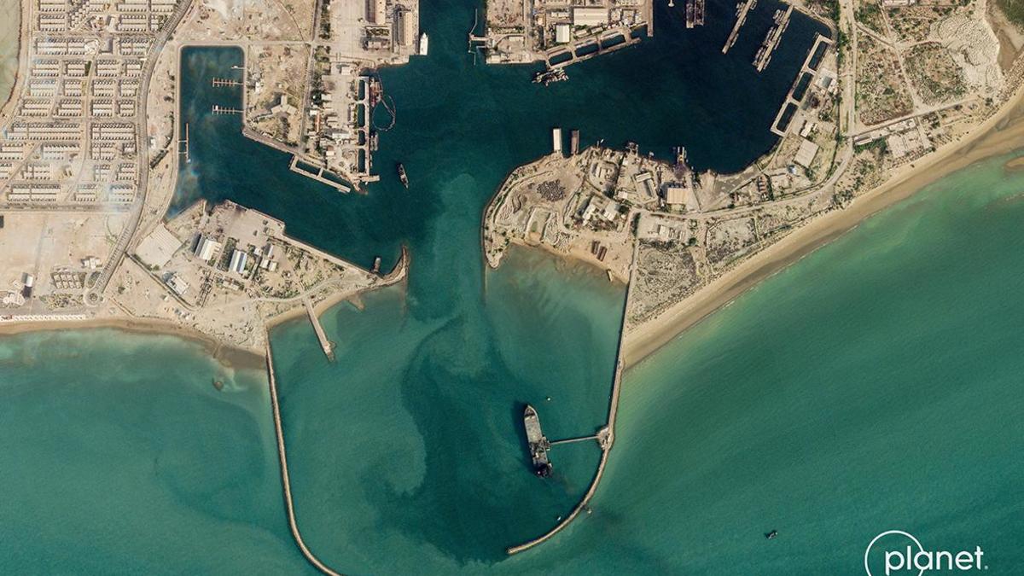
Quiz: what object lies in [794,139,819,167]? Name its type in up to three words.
building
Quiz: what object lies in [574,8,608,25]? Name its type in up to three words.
building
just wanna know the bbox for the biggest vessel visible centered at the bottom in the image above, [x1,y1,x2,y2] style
[524,405,548,478]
